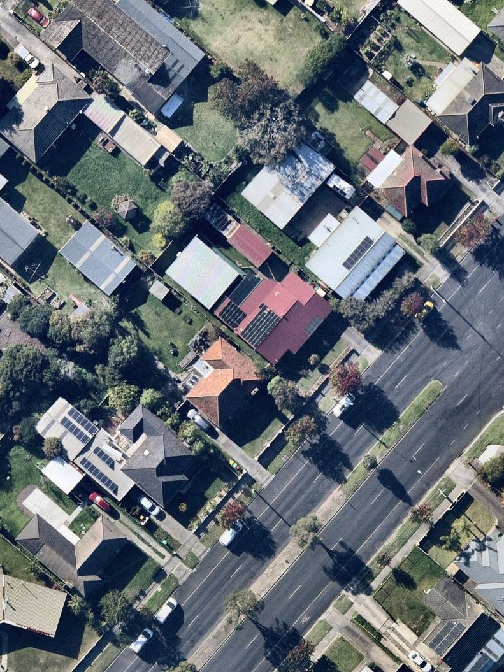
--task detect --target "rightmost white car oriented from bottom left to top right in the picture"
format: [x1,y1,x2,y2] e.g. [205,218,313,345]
[332,393,355,419]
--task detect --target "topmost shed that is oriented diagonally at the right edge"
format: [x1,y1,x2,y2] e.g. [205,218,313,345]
[397,0,481,56]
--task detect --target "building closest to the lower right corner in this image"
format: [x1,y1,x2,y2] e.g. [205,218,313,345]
[442,614,504,672]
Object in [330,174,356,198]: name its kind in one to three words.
camper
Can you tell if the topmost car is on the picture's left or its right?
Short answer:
left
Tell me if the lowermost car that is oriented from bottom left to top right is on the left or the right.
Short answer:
left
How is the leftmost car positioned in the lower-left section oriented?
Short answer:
on a diagonal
